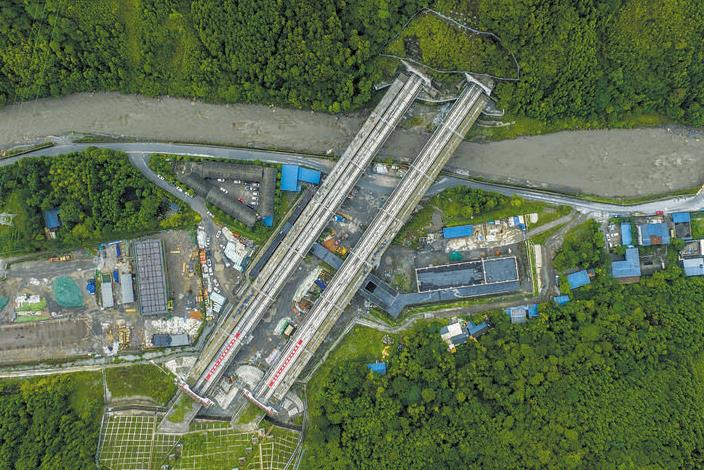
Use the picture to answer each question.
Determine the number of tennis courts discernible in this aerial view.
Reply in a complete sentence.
The count of tennis courts is 0.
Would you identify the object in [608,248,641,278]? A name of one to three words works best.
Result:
house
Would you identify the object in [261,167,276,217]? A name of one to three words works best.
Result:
building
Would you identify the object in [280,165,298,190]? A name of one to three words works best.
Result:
shed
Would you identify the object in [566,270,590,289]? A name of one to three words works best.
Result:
house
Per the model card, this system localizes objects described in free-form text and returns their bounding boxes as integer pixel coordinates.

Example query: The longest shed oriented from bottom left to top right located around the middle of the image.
[250,187,317,278]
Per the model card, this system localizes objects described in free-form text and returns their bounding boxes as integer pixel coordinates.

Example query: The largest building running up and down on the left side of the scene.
[134,238,170,316]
